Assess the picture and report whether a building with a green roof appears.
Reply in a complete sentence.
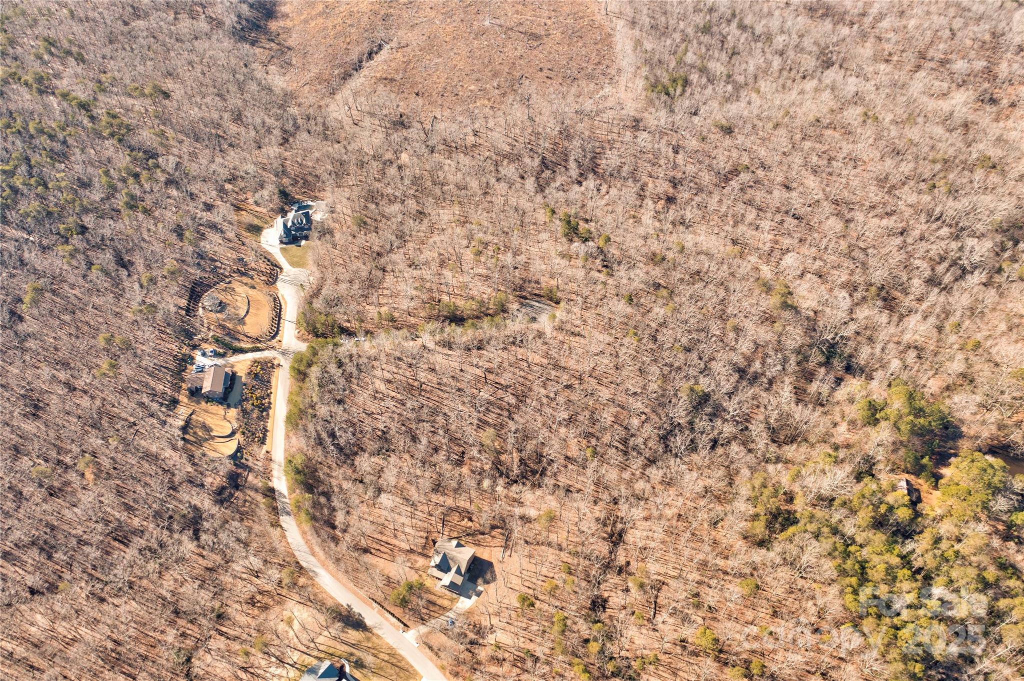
No, there isn't any building with a green roof down there.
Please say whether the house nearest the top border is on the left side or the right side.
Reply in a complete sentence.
It is on the left.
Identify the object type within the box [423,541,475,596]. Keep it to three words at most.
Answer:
house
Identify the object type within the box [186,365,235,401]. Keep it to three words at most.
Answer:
house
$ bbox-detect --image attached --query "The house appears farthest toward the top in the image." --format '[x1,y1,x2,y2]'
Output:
[276,208,313,244]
